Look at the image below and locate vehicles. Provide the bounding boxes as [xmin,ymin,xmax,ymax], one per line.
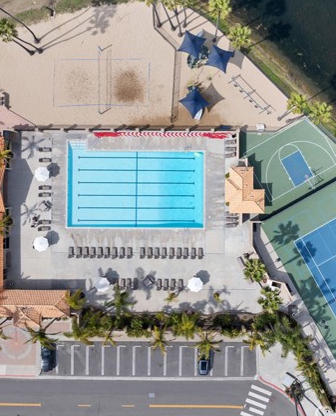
[41,340,55,370]
[198,345,211,374]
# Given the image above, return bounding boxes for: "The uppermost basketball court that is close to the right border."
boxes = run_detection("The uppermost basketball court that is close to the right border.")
[240,117,336,220]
